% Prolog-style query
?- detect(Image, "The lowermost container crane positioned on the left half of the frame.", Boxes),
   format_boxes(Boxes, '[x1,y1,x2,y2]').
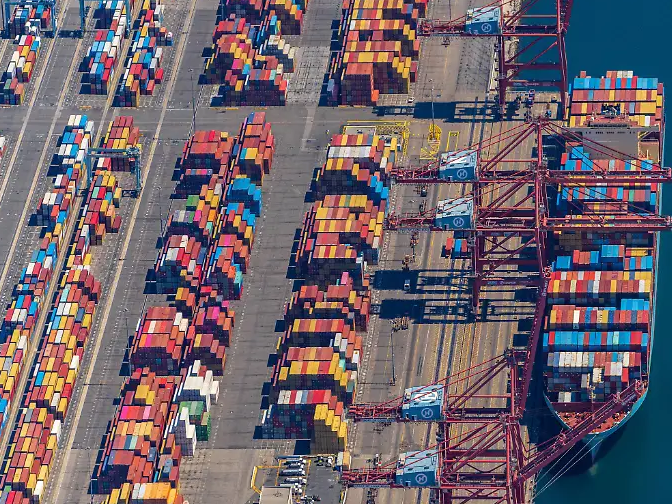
[85,144,145,198]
